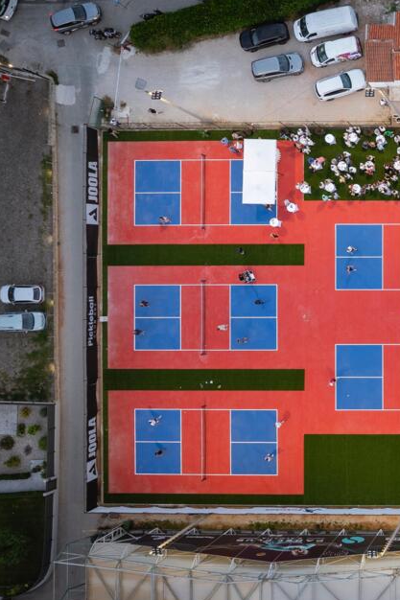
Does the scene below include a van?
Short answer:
Yes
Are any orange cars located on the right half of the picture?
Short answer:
No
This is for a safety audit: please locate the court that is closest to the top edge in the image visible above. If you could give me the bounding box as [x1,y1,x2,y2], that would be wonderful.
[108,140,304,245]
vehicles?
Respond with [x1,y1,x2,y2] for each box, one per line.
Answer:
[240,21,293,52]
[0,309,48,334]
[1,282,48,305]
[142,10,160,19]
[313,69,369,101]
[293,3,360,41]
[310,35,364,67]
[0,0,21,18]
[251,53,305,83]
[48,3,104,35]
